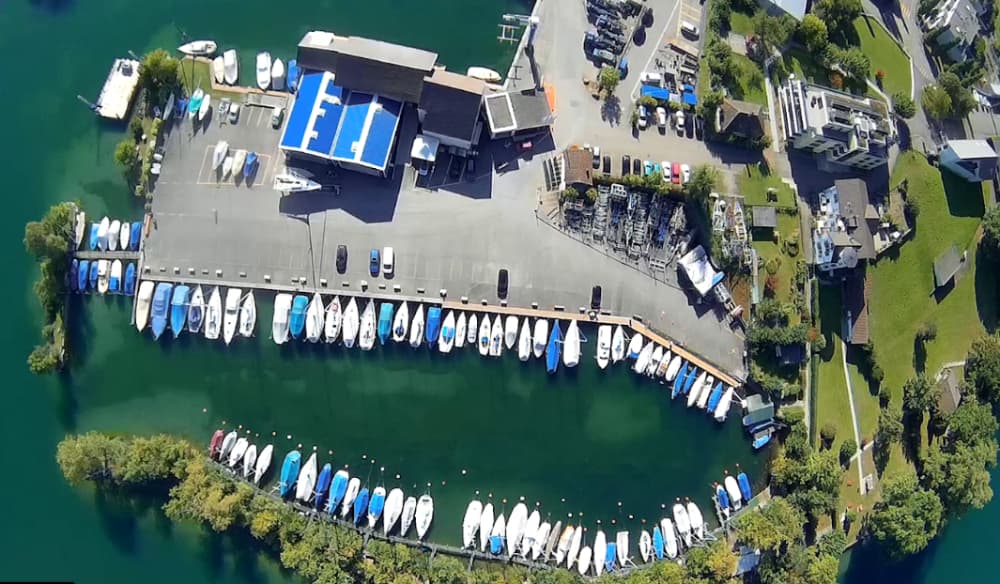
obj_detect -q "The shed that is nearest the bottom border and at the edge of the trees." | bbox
[738,545,760,573]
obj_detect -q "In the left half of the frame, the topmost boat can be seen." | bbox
[178,33,220,55]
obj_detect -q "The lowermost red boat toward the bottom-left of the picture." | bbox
[211,427,226,458]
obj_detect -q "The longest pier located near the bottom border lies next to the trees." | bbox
[203,451,769,583]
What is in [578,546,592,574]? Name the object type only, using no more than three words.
boat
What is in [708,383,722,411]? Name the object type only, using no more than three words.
boat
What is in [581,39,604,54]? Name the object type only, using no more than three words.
car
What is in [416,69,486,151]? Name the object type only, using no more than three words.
building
